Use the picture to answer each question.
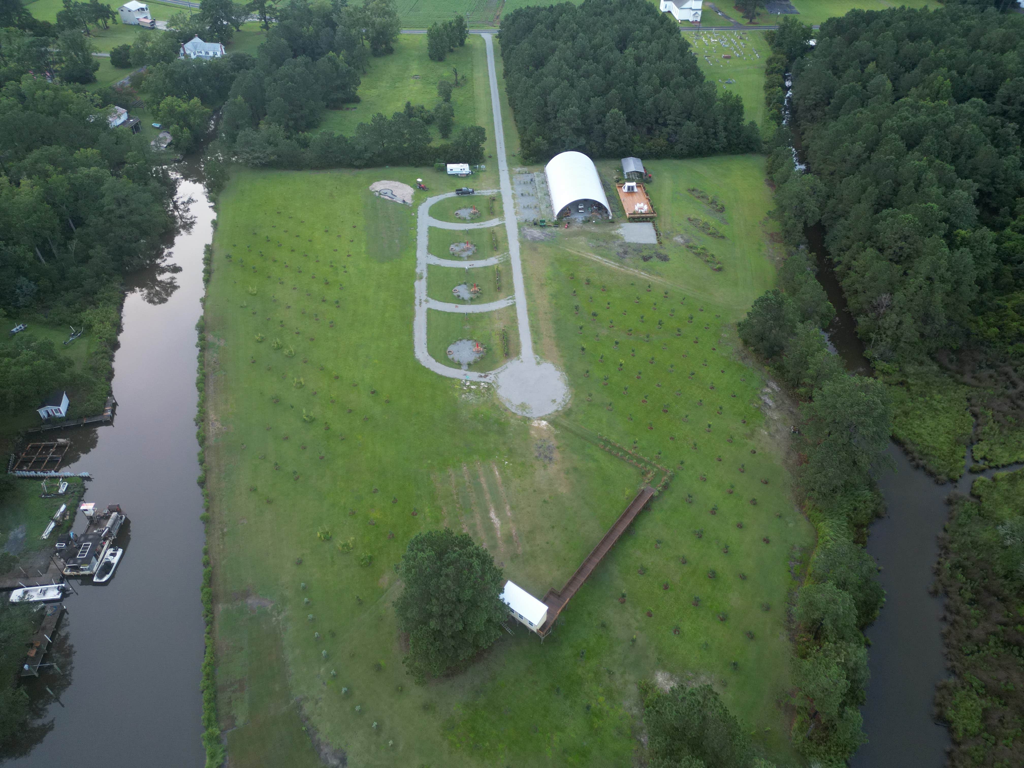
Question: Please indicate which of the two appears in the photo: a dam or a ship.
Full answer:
Visible in the photo is a ship.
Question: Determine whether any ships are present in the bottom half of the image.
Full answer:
Yes, in the bottom half of the image there is a ship.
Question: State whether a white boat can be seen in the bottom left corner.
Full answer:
Yes, a white boat is visible in the bottom left corner.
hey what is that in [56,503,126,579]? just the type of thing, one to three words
ship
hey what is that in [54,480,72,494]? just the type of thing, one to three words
boat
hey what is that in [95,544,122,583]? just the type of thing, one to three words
boat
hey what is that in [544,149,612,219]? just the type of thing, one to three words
building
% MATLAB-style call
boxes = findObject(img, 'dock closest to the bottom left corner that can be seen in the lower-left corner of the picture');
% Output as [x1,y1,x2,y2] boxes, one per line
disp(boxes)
[21,606,65,677]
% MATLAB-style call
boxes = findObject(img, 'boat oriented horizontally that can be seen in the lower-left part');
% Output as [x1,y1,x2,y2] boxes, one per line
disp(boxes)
[6,585,69,601]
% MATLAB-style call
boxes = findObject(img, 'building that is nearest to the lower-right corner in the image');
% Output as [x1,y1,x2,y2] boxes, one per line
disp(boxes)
[497,577,550,638]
